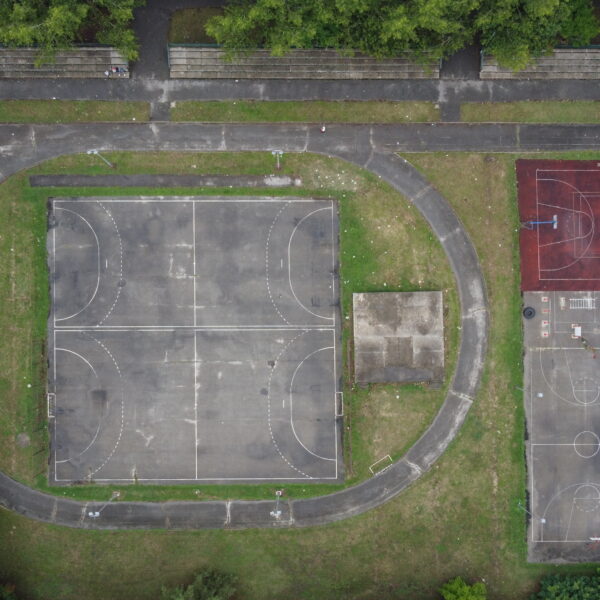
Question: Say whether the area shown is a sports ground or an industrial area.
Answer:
sports ground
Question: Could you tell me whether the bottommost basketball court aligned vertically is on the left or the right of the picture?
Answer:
right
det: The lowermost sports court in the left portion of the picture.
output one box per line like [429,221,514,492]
[47,328,345,486]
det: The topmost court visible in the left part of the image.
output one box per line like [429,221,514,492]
[47,196,342,328]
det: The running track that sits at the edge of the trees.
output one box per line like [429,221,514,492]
[0,123,600,530]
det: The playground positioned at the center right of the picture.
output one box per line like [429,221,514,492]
[521,291,600,349]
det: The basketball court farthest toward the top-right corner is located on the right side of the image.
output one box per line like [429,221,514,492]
[516,159,600,292]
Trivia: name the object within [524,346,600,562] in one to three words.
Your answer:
basketball court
